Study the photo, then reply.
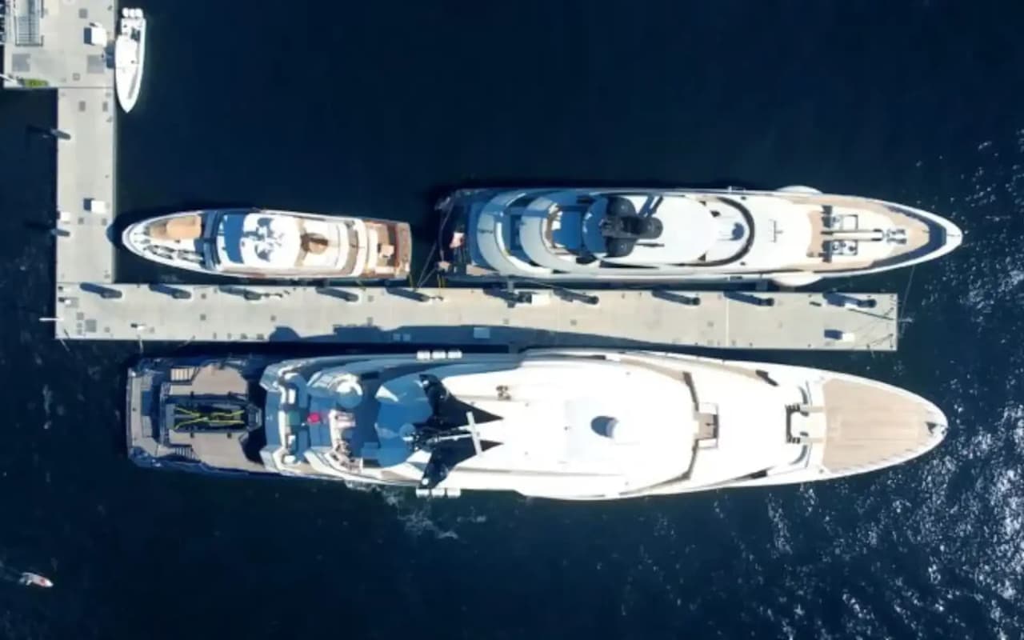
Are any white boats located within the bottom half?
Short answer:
Yes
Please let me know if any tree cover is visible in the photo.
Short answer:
No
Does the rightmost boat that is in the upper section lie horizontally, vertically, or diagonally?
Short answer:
horizontally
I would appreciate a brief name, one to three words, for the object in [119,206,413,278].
boat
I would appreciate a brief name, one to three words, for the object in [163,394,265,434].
boat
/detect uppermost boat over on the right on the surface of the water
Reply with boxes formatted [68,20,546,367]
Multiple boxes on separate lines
[439,182,967,286]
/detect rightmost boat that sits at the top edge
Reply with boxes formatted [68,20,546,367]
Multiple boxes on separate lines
[113,8,146,111]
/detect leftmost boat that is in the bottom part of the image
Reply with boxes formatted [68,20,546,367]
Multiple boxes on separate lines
[16,571,54,588]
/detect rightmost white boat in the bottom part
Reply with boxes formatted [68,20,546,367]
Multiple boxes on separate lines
[127,351,951,499]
